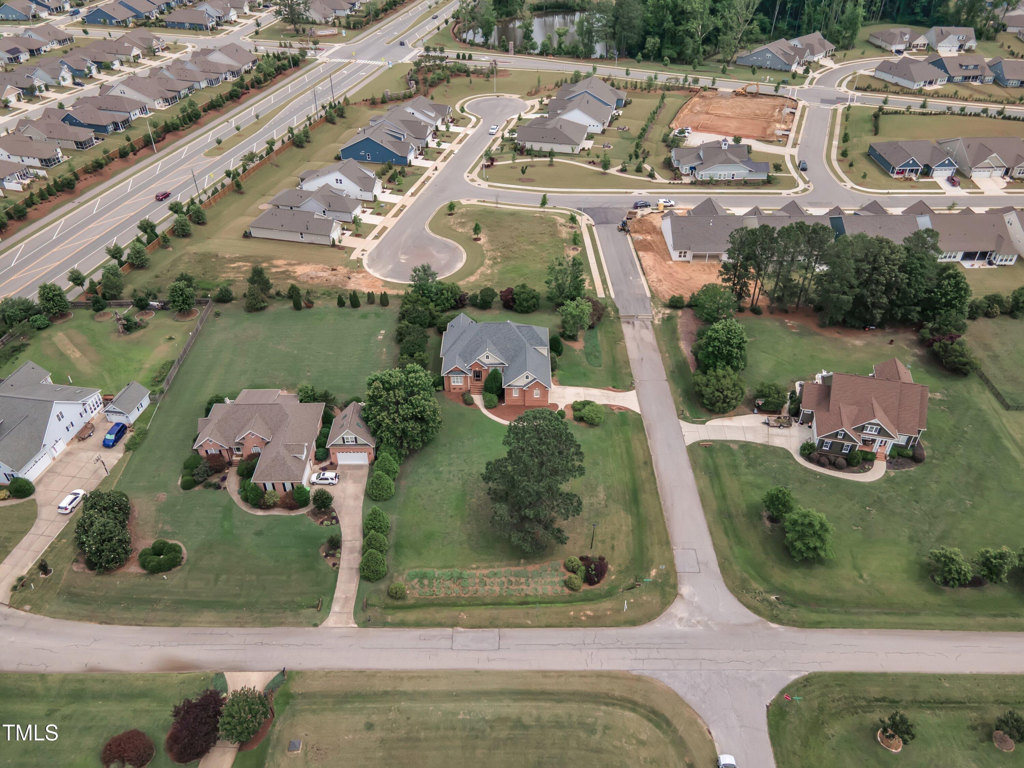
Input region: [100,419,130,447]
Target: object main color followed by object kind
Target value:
blue car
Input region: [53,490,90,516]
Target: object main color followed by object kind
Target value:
white car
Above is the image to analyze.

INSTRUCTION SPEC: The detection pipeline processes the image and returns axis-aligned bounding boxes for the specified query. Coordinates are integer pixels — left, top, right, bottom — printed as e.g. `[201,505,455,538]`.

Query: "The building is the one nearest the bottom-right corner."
[796,356,933,462]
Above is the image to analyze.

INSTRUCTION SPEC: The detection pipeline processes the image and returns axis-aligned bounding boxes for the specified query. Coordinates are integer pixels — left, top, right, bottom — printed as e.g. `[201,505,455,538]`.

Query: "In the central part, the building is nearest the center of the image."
[439,313,552,407]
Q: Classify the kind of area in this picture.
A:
residential area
